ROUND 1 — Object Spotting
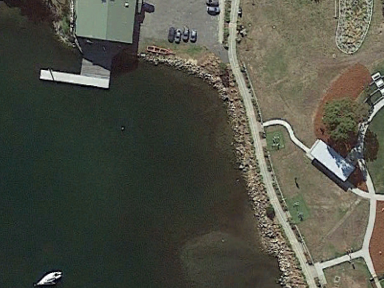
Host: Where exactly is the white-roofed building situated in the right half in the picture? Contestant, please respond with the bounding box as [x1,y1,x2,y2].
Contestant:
[309,140,355,182]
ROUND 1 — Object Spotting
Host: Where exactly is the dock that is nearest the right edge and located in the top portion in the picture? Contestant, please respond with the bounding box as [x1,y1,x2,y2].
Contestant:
[81,49,112,79]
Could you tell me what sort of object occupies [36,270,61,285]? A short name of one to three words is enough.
boat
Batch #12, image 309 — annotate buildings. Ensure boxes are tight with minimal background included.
[76,0,136,42]
[309,140,355,182]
